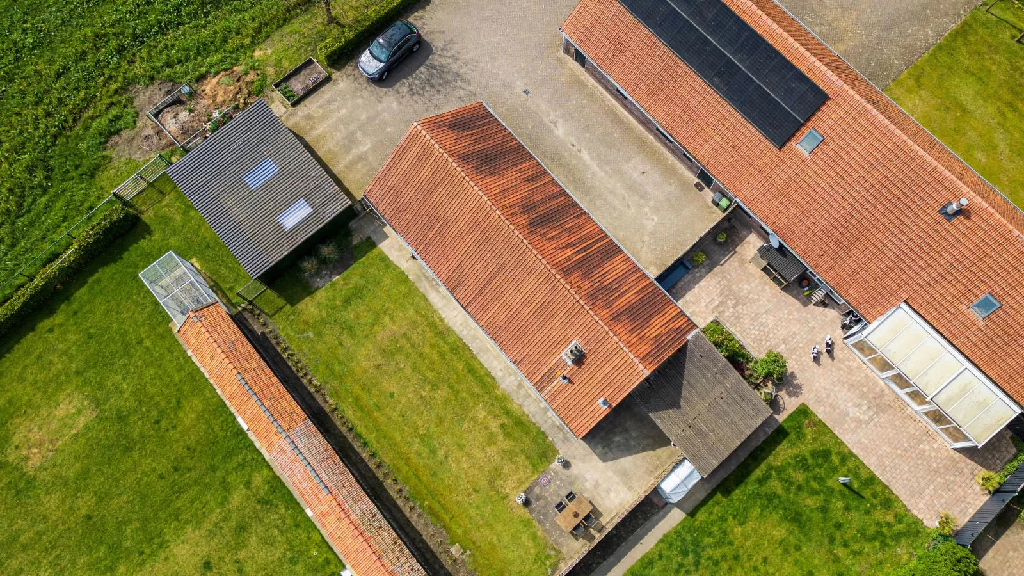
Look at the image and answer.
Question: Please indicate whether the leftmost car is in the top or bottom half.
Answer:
top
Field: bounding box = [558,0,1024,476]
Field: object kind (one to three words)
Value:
house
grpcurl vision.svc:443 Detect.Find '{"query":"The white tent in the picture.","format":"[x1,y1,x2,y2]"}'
[652,460,704,509]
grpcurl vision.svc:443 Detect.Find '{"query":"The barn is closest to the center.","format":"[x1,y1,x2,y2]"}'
[362,101,708,442]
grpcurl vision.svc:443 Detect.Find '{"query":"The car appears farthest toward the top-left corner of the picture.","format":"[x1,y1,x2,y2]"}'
[360,22,426,82]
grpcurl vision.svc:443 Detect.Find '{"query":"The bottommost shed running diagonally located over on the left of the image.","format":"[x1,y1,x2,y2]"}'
[175,300,432,576]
